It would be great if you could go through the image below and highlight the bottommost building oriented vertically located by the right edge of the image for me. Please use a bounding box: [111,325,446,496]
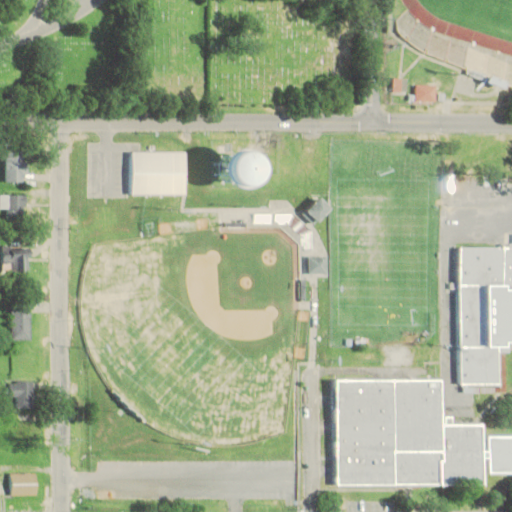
[448,247,512,384]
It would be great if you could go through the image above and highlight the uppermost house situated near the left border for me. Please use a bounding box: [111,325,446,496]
[5,153,28,184]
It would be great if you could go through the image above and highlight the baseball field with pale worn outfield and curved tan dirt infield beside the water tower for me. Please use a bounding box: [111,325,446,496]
[78,229,298,446]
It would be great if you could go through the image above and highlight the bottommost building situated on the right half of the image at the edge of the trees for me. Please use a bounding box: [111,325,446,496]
[332,380,512,486]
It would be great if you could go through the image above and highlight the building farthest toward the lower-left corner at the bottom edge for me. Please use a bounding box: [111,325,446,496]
[10,474,38,497]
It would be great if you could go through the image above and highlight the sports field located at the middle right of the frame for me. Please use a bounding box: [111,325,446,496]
[331,137,440,346]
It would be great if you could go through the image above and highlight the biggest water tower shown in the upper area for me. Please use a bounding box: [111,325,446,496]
[220,150,268,192]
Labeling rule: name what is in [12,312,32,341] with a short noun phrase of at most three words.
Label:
house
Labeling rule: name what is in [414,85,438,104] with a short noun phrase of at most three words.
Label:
building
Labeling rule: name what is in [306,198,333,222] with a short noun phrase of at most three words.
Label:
building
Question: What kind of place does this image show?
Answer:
sports ground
